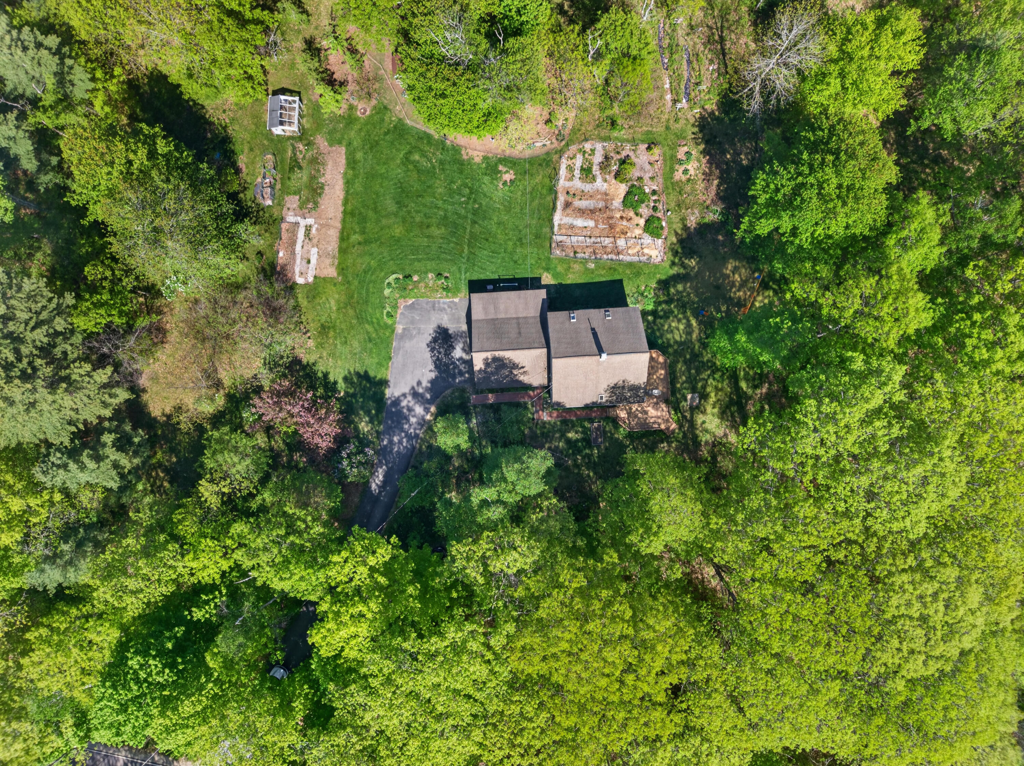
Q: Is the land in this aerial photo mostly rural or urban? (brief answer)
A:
rural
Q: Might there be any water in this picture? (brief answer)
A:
No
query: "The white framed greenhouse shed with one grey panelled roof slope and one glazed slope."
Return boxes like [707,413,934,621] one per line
[267,92,304,135]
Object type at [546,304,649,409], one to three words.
house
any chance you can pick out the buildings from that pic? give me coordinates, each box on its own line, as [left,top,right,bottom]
[546,304,649,409]
[468,289,548,389]
[267,92,304,135]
